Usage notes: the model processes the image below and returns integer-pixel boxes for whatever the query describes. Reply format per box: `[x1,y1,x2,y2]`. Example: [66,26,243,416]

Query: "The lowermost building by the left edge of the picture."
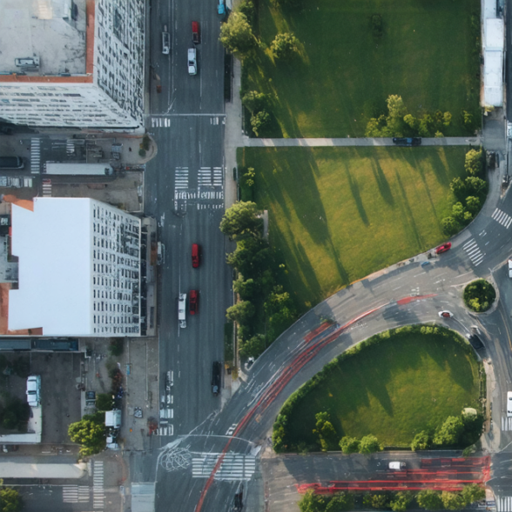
[0,196,155,337]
